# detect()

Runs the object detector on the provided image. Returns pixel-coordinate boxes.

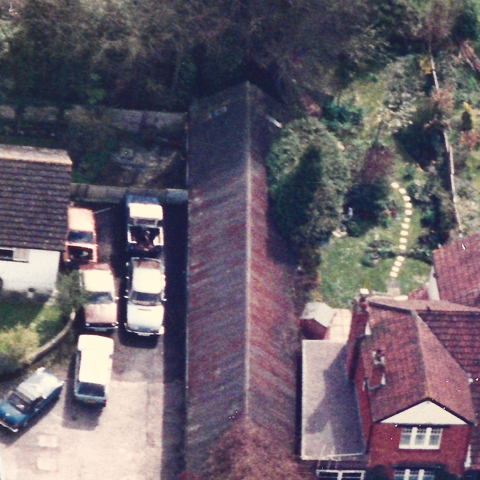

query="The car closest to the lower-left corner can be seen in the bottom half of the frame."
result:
[0,371,70,437]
